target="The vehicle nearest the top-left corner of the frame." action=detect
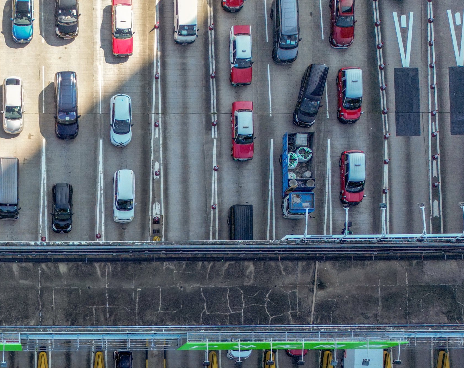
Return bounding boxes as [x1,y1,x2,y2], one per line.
[11,0,35,47]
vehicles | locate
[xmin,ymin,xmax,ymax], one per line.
[11,0,35,47]
[112,171,136,222]
[281,133,317,218]
[292,64,330,127]
[0,159,21,219]
[54,0,80,42]
[219,0,245,15]
[113,350,133,368]
[109,96,134,146]
[339,150,366,205]
[230,103,257,161]
[0,78,25,134]
[327,0,357,51]
[228,27,254,87]
[54,75,80,137]
[111,1,135,59]
[50,181,75,235]
[336,68,363,124]
[272,0,301,64]
[228,201,254,241]
[172,0,197,47]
